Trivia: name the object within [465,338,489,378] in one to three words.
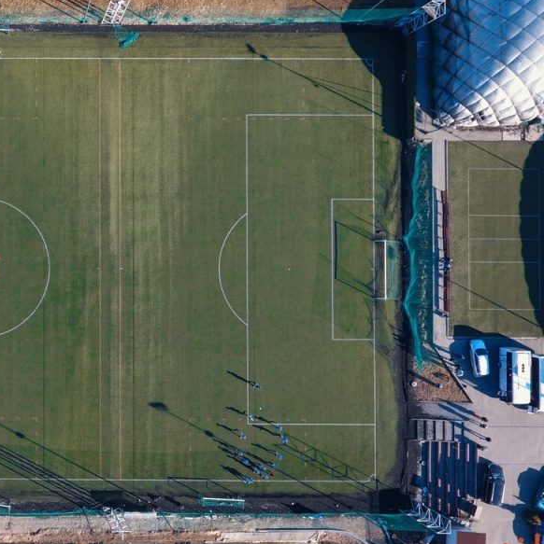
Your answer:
car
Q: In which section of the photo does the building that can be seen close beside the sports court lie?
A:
top right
